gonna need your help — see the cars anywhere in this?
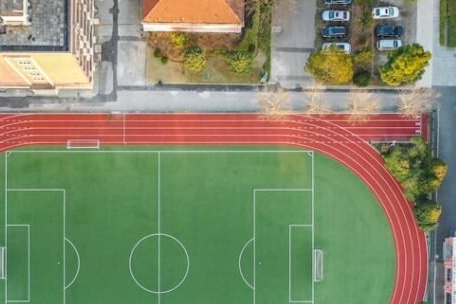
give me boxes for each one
[375,37,404,51]
[371,5,400,19]
[321,8,350,22]
[375,23,404,37]
[320,23,349,38]
[323,39,352,54]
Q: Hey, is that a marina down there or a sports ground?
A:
sports ground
